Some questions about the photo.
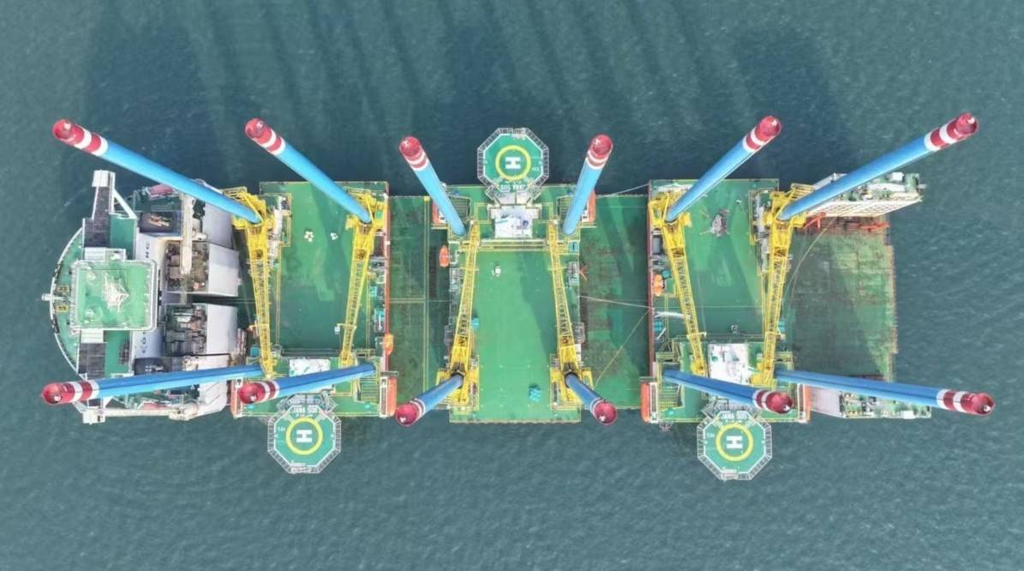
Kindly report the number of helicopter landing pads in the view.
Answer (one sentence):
In total, there are 3 helicopter landing pads in the scene.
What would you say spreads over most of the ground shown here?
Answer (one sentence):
For the most part, this view shows water.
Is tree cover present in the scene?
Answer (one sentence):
No, there is no tree cover in the image.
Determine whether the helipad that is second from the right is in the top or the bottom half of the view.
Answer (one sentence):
The top half of the photo is where the helipad that is second from the right is.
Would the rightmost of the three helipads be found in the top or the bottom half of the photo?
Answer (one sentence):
The rightmost of the three helipads is in the bottom half of the image.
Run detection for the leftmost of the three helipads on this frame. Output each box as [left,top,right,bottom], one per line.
[266,387,342,473]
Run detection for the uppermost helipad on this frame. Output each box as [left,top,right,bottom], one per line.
[475,127,548,209]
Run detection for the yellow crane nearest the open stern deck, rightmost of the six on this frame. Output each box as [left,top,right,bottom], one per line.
[750,183,815,385]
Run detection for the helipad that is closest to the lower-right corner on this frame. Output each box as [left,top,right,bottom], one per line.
[695,395,772,480]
